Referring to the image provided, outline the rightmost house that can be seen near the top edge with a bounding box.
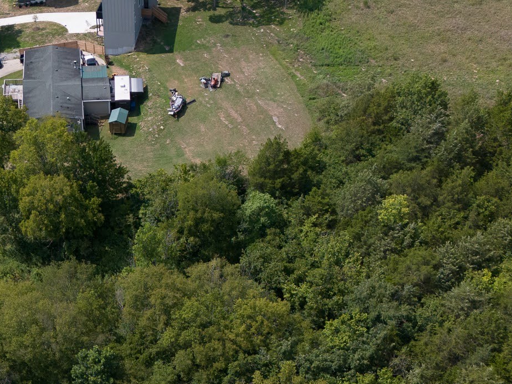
[92,0,157,54]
